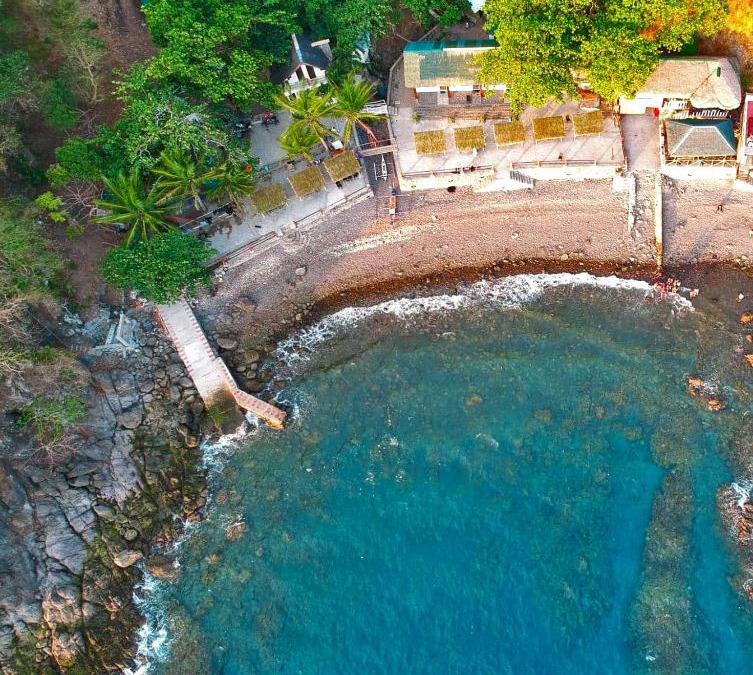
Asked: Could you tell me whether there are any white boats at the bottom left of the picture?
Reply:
No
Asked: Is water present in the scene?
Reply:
Yes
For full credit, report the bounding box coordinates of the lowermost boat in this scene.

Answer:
[379,182,410,220]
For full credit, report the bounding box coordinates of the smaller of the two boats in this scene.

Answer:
[374,155,392,182]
